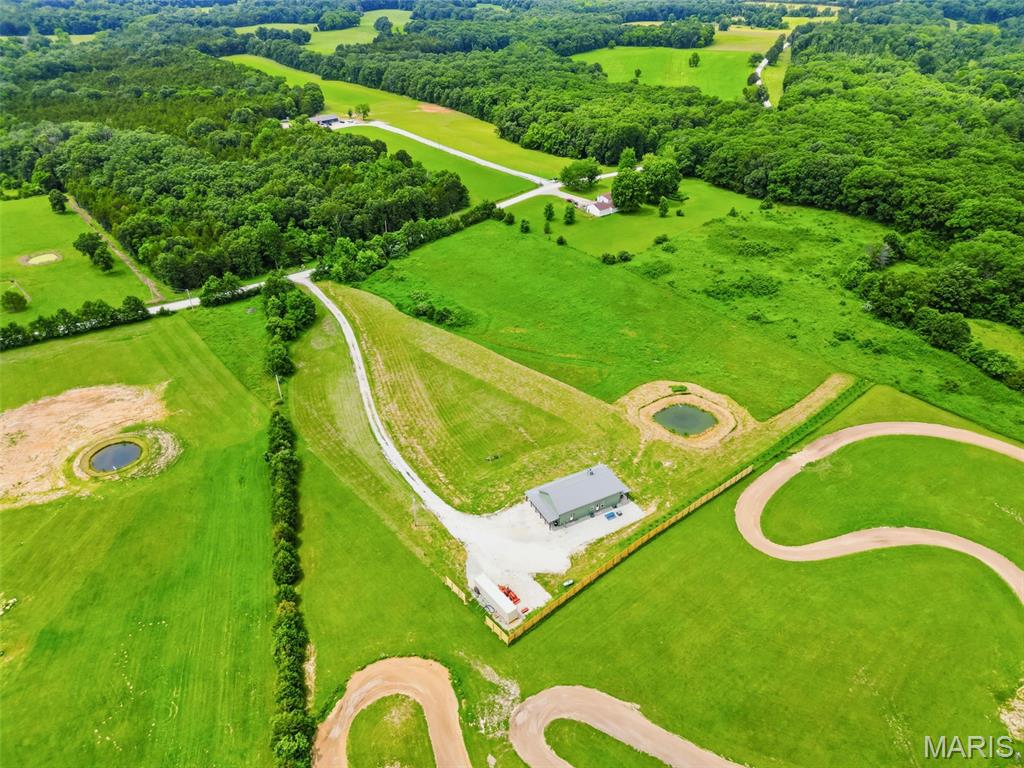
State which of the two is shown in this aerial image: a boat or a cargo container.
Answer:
cargo container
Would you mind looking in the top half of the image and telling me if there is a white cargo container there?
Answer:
No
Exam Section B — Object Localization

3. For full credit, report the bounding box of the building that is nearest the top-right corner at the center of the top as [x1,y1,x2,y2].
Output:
[586,194,614,217]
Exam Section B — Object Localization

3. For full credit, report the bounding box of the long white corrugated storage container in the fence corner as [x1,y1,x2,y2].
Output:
[476,571,520,623]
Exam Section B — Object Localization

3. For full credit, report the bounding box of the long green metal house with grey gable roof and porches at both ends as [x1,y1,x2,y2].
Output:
[524,465,630,531]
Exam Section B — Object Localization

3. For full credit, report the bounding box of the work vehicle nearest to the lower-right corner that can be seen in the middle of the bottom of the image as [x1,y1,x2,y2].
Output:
[500,581,525,605]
